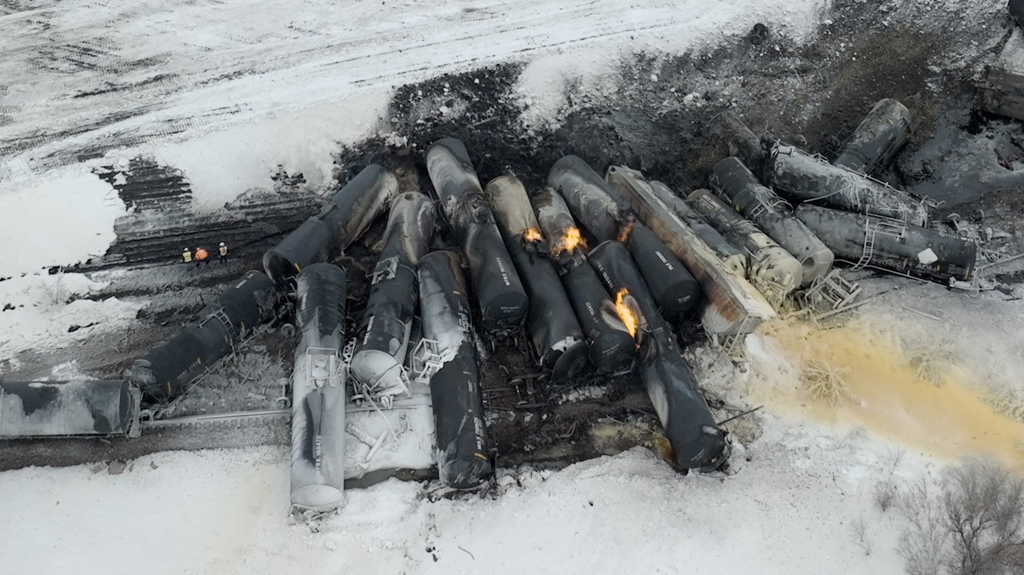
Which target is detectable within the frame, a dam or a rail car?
rail car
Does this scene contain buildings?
No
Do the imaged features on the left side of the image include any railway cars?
Yes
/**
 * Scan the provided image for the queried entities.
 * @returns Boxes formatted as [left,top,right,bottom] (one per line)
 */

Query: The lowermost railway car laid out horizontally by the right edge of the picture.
[805,195,998,296]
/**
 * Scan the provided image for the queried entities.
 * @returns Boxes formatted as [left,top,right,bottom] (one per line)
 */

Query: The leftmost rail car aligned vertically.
[287,260,355,534]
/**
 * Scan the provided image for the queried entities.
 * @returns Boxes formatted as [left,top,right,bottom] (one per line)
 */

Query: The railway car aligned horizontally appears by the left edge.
[0,378,151,438]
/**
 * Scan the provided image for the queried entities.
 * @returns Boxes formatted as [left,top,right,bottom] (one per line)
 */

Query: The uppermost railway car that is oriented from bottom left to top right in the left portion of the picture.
[266,166,398,290]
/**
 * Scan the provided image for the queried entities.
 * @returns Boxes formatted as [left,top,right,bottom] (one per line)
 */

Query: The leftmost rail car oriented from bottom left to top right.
[122,271,291,410]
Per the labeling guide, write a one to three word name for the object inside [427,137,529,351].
rail car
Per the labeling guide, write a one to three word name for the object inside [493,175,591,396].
rail car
